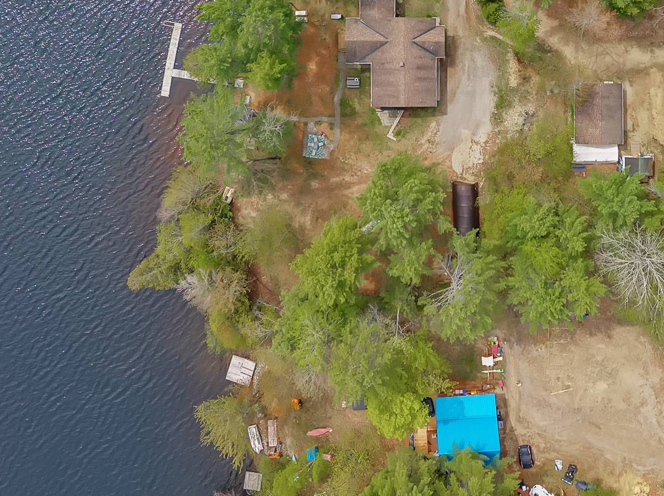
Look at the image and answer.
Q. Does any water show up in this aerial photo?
Yes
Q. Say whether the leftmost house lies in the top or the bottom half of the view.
top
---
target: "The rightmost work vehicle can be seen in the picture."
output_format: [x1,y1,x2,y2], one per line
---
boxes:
[560,466,577,487]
